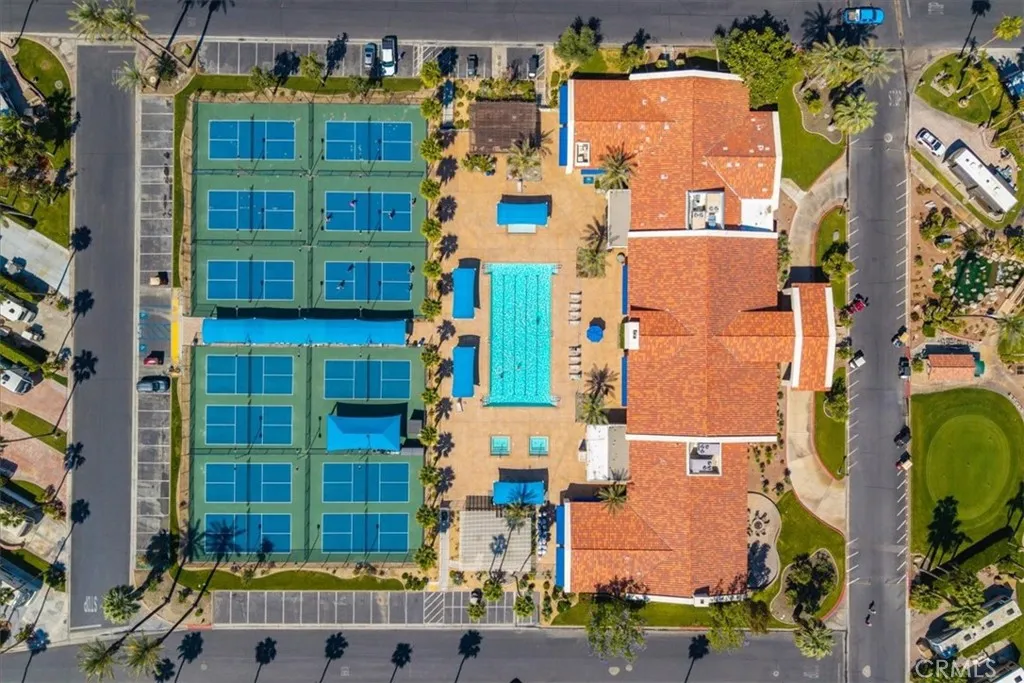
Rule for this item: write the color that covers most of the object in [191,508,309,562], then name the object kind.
blue sports court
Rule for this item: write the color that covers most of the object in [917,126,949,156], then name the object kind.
white car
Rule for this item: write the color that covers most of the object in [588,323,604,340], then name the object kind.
blue umbrella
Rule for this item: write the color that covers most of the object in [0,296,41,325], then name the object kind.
white camper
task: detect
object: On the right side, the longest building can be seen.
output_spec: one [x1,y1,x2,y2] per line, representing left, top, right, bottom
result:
[556,69,843,609]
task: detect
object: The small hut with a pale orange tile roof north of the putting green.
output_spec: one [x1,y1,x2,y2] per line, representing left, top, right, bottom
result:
[919,346,985,384]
